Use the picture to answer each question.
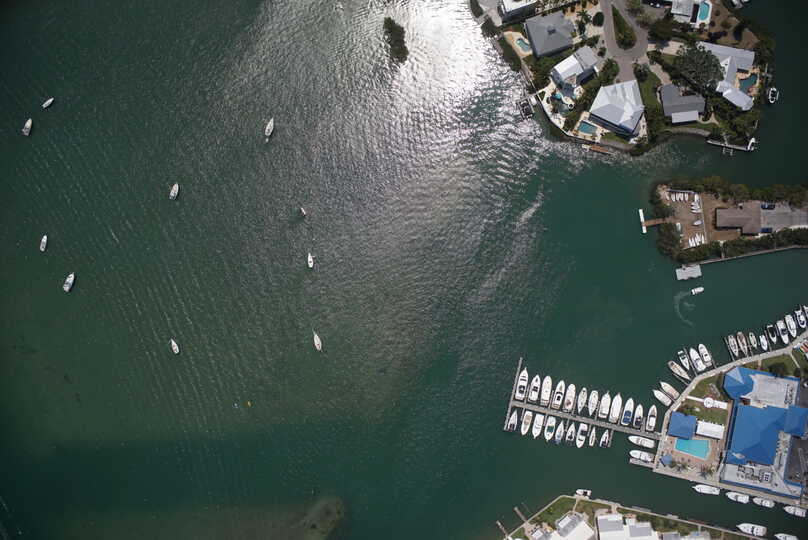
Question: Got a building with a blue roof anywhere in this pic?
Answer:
Yes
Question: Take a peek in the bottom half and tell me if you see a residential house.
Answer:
Yes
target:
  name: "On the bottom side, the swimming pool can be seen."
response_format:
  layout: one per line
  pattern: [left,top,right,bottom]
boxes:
[675,437,711,460]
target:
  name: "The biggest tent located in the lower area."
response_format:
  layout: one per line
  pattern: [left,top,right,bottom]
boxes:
[695,420,725,439]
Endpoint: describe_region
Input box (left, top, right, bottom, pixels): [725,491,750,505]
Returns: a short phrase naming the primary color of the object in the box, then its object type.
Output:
white boat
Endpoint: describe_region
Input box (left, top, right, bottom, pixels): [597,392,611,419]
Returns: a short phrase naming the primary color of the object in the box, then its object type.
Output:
white boat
